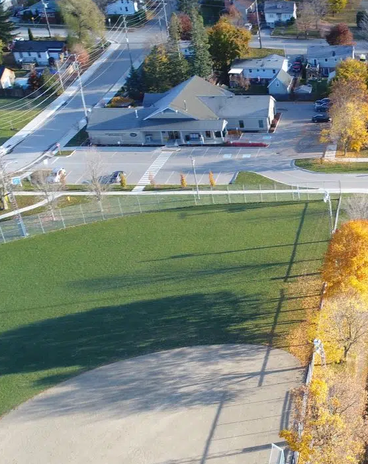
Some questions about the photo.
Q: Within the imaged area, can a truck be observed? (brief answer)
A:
No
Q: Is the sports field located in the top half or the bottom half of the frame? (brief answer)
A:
bottom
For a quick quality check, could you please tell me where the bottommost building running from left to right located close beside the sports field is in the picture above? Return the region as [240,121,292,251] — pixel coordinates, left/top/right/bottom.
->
[80,75,281,153]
